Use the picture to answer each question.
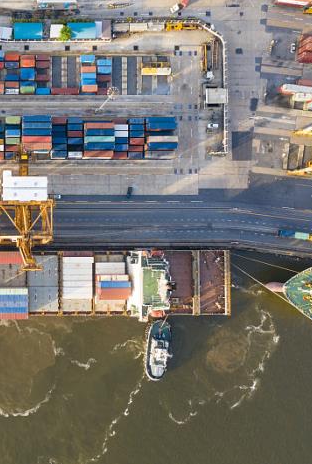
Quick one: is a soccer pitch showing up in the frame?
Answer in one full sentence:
No, the picture doesn't show any soccer pitch.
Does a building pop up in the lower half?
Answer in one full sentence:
No, the scene shows no building in the lower half.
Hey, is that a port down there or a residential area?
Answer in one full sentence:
What you see here is a port.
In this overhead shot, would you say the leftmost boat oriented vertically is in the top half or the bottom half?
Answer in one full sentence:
The leftmost boat oriented vertically sits in the bottom half of the picture.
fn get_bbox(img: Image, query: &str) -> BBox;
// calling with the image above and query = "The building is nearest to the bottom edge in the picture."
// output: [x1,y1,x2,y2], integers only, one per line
[201,87,229,105]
